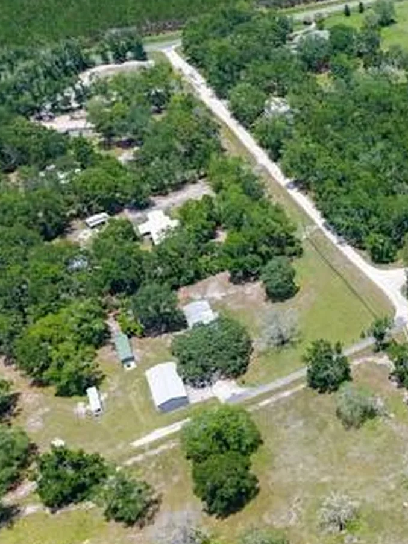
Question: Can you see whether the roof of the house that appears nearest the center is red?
No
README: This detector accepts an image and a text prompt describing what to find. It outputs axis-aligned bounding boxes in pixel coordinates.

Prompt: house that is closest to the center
[175,294,220,330]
